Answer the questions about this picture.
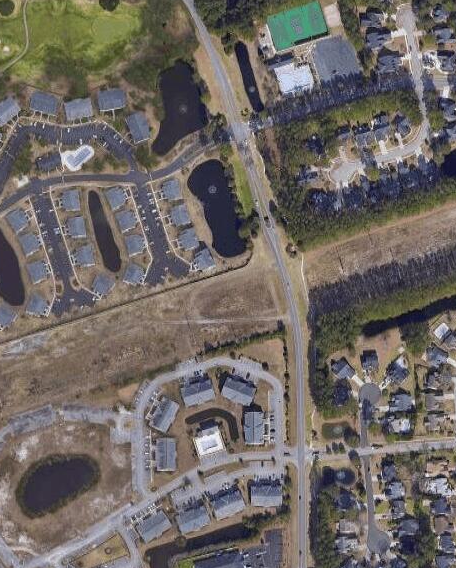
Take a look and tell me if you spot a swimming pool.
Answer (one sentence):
Yes, I can see a swimming pool in this picture.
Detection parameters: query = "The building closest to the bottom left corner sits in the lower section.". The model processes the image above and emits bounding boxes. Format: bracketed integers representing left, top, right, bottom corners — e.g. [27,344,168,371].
[137,512,172,545]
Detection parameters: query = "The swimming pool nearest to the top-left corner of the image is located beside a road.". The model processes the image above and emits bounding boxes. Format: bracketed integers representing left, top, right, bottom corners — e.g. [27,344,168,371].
[62,145,94,171]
